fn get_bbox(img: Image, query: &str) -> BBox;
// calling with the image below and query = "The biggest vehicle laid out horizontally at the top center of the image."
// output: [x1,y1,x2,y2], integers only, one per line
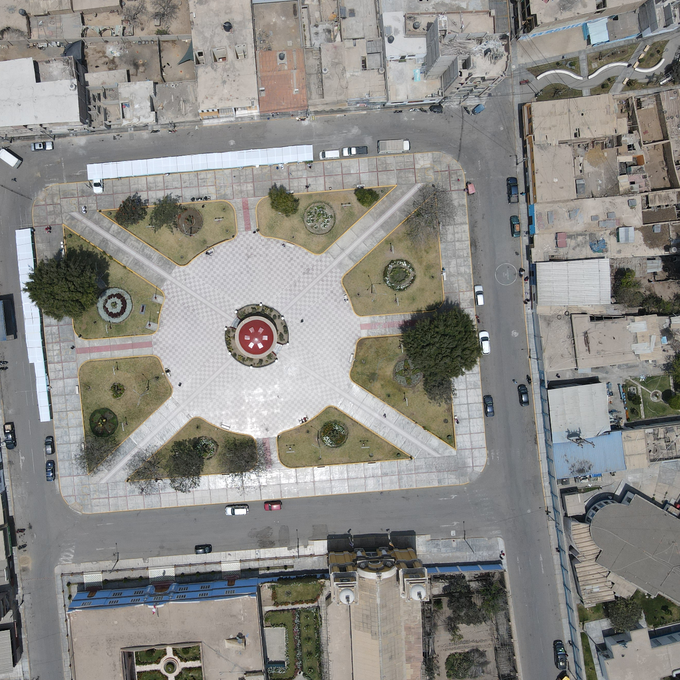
[377,138,410,153]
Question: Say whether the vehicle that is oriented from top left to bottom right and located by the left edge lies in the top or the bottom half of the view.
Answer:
top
